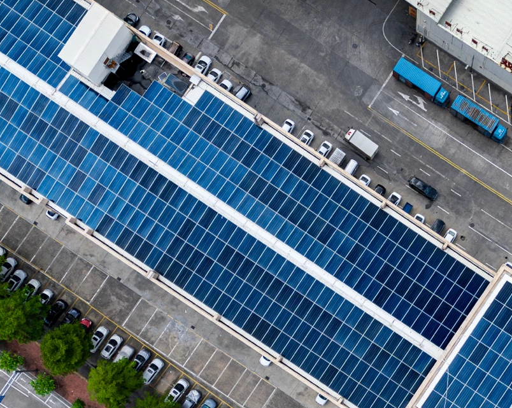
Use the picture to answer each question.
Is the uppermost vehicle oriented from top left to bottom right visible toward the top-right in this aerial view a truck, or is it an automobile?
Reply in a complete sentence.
The uppermost vehicle oriented from top left to bottom right visible toward the top-right can be classified as a truck.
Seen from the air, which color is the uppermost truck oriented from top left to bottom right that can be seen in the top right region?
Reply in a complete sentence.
The uppermost truck oriented from top left to bottom right that can be seen in the top right region is blue.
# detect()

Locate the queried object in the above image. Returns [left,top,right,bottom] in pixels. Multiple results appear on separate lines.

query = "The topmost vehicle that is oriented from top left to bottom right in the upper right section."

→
[391,54,454,113]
